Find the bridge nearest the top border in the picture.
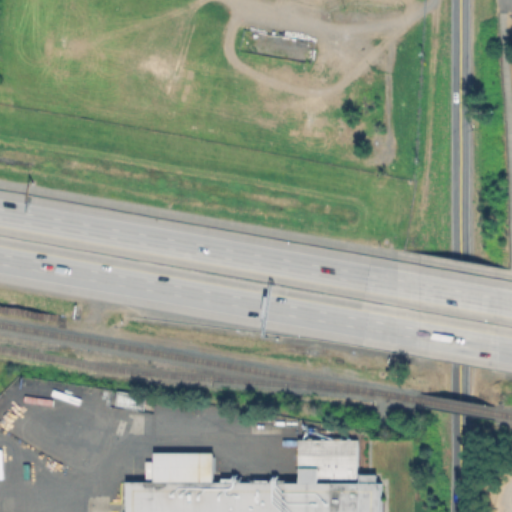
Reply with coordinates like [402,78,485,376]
[386,250,512,374]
